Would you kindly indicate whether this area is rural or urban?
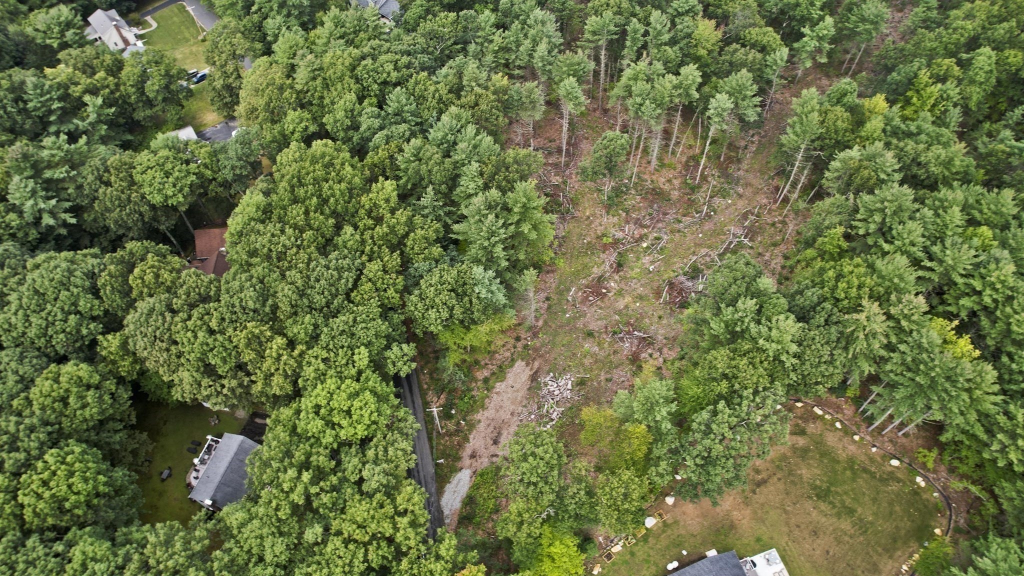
rural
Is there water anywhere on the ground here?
No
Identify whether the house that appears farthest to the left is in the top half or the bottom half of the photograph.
top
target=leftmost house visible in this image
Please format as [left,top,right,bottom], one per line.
[90,9,158,66]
